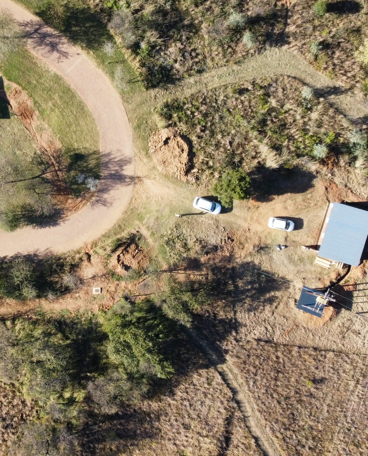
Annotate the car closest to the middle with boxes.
[193,195,221,215]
